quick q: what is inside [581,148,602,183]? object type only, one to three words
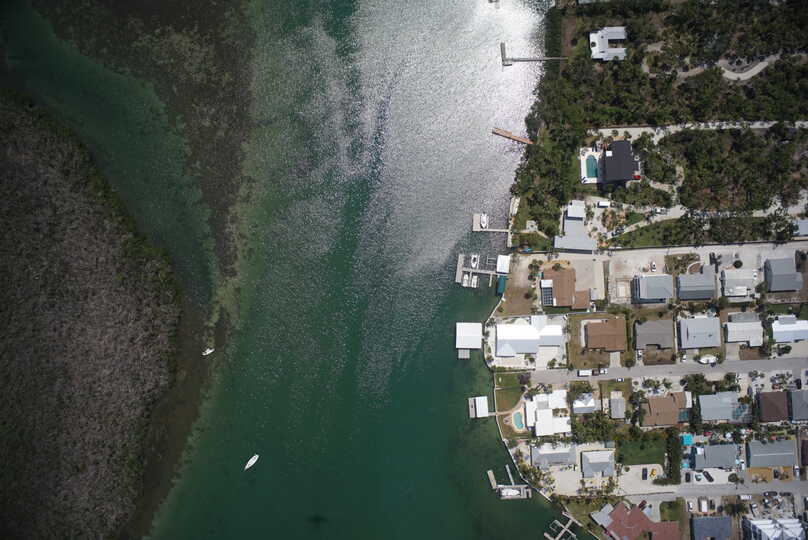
swimming pool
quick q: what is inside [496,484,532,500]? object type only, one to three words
pier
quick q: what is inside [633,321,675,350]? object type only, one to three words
house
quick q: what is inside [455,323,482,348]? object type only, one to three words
building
